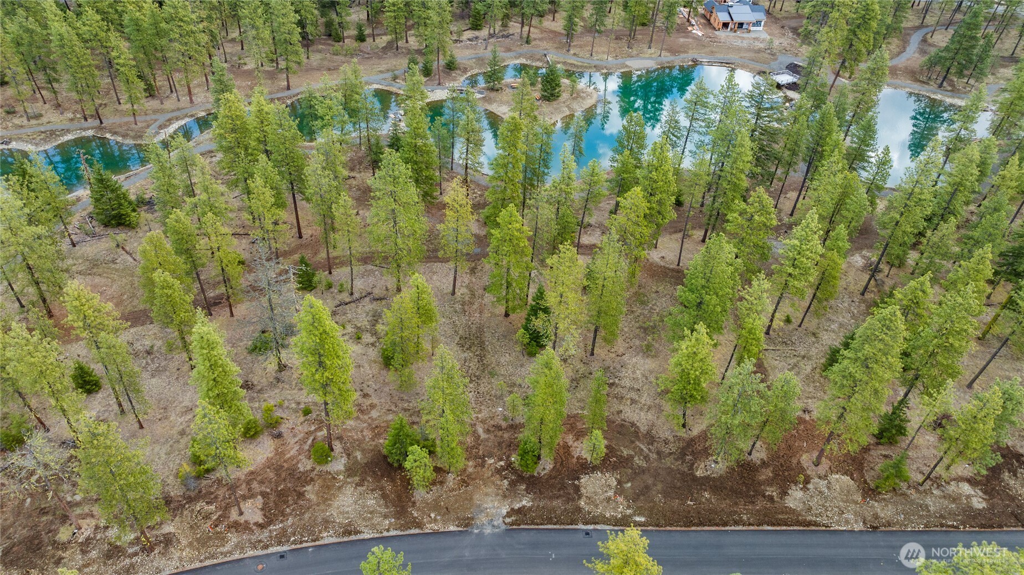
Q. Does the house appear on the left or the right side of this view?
right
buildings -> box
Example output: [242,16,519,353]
[701,0,773,33]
